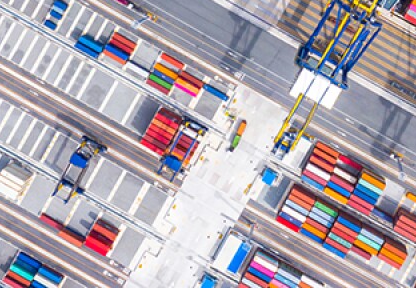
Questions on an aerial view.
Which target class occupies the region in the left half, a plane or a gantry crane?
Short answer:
gantry crane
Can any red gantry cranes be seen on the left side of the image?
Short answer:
No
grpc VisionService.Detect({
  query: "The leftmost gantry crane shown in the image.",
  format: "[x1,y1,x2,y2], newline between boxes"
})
[49,137,107,204]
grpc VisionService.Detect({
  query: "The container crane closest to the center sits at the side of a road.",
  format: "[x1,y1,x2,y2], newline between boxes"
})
[156,117,207,184]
